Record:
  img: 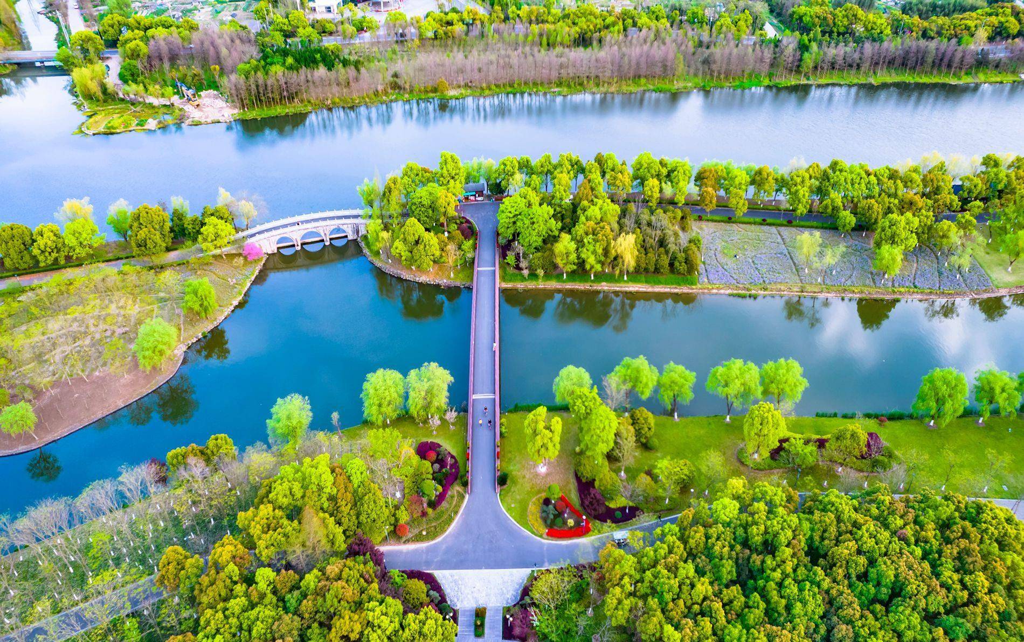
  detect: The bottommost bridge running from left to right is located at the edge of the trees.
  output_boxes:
[222,210,399,257]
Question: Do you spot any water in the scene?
Yes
